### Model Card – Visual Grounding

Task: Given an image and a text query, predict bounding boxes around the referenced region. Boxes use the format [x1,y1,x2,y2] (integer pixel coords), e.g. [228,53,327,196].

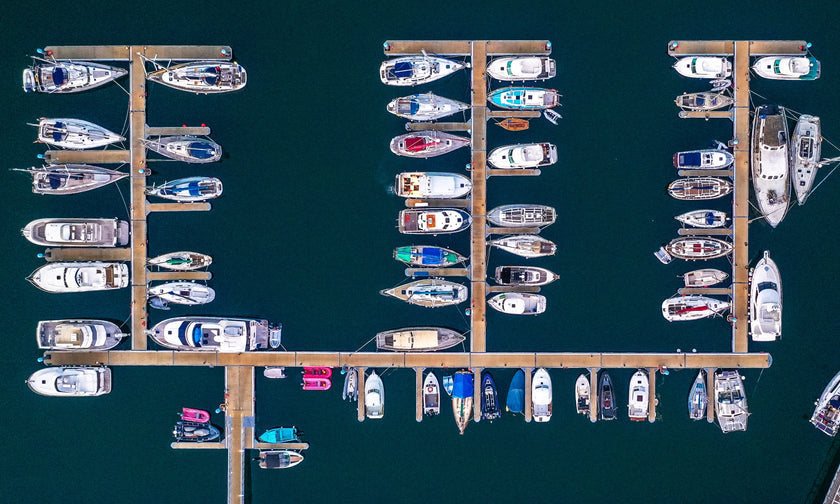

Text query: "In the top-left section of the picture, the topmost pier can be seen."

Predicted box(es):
[46,45,232,62]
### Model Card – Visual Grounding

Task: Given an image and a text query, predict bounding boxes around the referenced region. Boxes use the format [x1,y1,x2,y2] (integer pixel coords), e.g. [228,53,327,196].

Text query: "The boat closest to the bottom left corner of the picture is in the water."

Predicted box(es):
[20,364,116,396]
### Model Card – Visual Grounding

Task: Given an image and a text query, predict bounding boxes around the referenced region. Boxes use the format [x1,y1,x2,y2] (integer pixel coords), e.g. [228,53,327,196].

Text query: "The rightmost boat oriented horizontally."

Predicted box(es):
[750,54,820,83]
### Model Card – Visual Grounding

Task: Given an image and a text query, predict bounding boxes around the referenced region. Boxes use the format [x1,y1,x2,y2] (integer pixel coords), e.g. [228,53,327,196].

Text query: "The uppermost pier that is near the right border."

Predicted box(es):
[667,40,809,57]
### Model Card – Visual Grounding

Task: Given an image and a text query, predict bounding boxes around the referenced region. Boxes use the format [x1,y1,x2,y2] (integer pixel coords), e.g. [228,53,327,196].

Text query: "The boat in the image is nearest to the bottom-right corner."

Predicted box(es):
[809,369,840,437]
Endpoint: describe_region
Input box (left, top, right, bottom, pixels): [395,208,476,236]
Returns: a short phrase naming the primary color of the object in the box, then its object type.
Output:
white boat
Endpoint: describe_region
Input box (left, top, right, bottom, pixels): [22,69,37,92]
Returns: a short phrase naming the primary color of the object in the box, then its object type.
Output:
white boat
